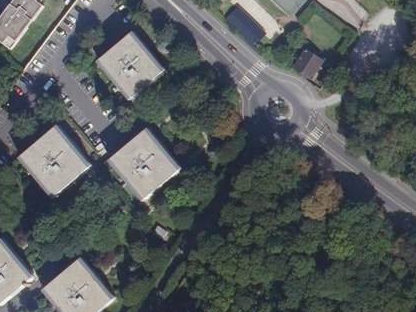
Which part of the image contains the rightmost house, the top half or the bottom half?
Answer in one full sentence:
Seen from above, the rightmost house lies in the top half of the view.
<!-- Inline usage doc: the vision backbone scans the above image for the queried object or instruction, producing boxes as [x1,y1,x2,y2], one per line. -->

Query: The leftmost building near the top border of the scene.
[0,0,46,50]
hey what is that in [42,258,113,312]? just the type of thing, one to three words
building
